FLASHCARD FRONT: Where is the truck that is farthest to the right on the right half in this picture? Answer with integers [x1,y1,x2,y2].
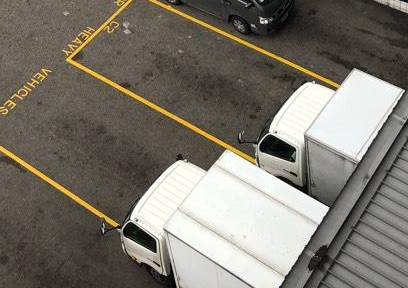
[243,68,402,205]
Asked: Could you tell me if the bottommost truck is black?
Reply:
No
